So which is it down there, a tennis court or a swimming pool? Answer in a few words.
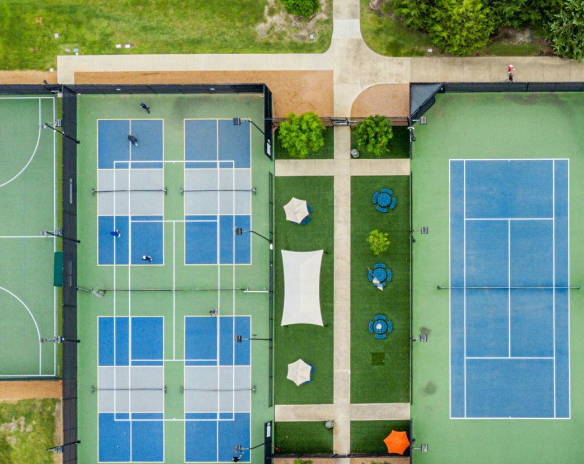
tennis court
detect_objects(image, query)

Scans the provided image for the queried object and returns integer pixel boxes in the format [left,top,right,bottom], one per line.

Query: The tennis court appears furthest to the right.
[409,91,584,464]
